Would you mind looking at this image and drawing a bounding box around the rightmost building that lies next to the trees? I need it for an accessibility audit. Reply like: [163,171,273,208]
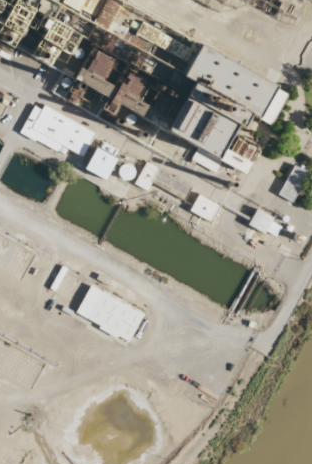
[278,164,308,203]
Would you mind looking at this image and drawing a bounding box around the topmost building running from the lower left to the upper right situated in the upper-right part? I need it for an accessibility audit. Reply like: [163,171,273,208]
[260,88,290,124]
